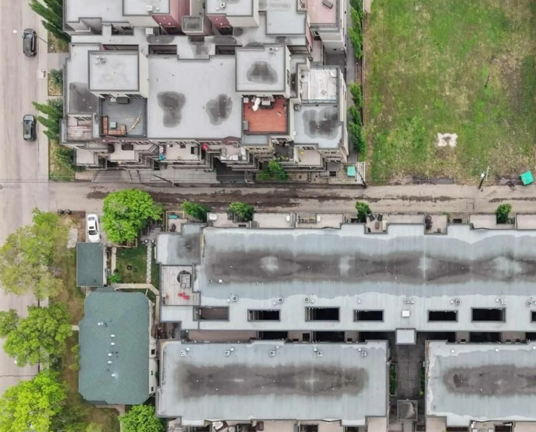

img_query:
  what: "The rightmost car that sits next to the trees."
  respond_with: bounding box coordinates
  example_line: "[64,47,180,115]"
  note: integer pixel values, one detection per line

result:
[87,215,102,243]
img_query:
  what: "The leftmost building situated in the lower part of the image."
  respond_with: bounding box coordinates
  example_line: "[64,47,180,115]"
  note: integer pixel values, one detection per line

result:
[77,243,108,286]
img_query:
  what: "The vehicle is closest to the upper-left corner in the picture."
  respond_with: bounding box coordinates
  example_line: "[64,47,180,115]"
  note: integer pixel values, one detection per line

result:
[22,29,38,56]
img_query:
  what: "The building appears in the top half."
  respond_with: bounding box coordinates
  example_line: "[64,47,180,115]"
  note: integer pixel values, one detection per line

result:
[64,0,349,173]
